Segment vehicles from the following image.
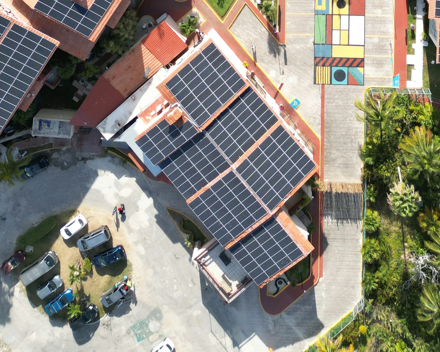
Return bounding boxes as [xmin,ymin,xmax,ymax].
[76,223,113,251]
[37,271,66,299]
[69,300,100,327]
[101,277,136,306]
[94,243,127,267]
[0,249,28,277]
[60,211,88,238]
[20,154,52,181]
[43,285,76,319]
[18,248,60,290]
